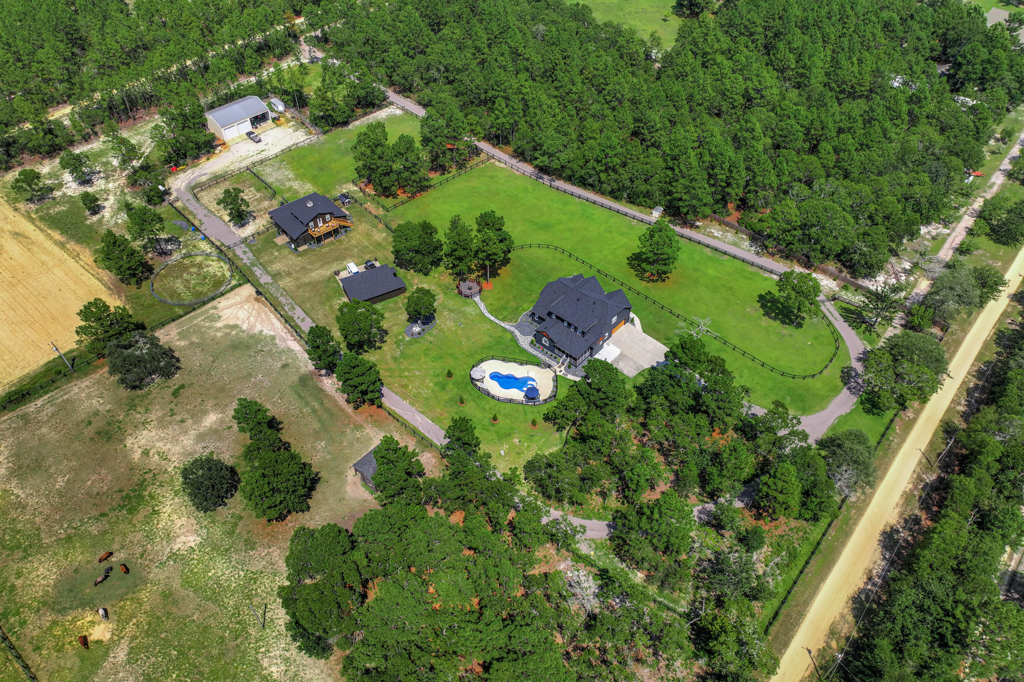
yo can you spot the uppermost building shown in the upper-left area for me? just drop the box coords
[201,96,271,140]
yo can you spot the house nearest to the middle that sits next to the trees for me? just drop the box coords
[530,273,635,368]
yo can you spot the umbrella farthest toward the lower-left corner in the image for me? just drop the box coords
[468,366,487,385]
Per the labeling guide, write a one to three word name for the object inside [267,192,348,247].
barn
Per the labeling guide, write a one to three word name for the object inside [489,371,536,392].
swimming pool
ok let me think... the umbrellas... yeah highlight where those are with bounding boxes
[468,366,487,385]
[525,386,540,398]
